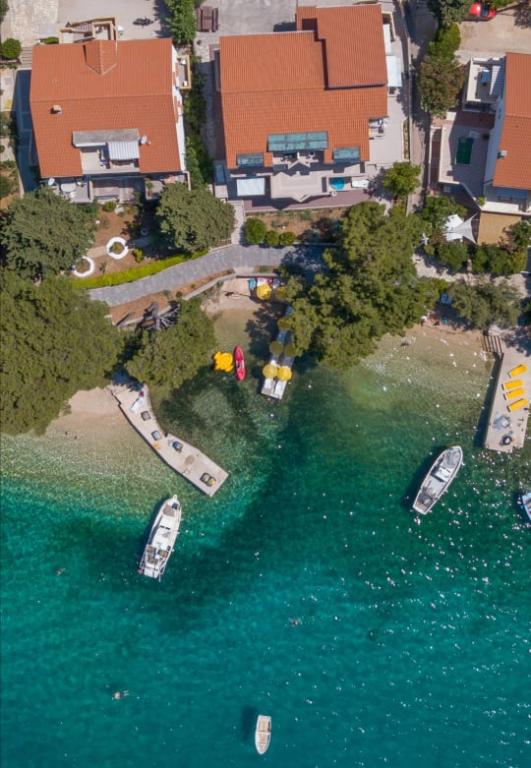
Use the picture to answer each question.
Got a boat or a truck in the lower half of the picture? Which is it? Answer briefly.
boat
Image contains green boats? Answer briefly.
No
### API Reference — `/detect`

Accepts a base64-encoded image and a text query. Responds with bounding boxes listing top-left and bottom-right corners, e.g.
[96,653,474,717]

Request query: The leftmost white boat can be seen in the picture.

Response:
[130,496,178,586]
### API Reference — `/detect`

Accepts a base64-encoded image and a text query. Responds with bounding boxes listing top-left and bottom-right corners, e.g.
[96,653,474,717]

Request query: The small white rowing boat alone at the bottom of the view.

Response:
[255,713,272,759]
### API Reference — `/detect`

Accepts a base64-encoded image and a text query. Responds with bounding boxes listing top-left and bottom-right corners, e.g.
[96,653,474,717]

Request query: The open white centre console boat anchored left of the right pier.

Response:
[410,447,466,520]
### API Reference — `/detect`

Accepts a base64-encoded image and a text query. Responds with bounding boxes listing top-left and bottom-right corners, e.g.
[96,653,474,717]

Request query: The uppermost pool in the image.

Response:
[455,136,473,166]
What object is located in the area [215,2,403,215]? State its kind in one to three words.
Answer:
house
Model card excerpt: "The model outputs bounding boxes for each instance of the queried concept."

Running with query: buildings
[28,16,193,213]
[424,52,531,250]
[215,2,403,215]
